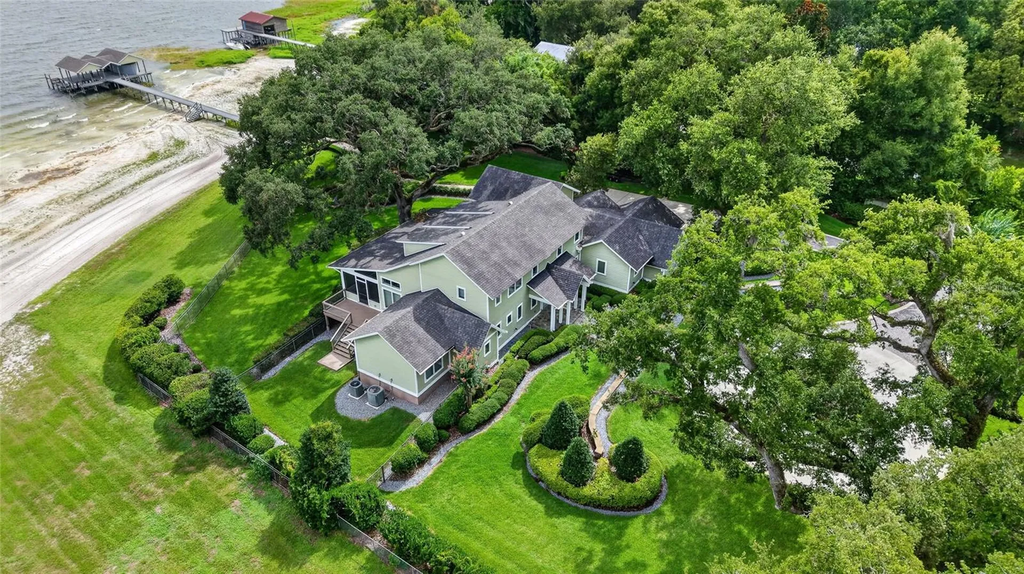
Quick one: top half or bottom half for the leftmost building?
top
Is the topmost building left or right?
left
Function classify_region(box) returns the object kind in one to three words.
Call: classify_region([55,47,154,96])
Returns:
building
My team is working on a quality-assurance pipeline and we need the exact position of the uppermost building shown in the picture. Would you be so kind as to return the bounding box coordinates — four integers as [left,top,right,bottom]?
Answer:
[221,11,293,43]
